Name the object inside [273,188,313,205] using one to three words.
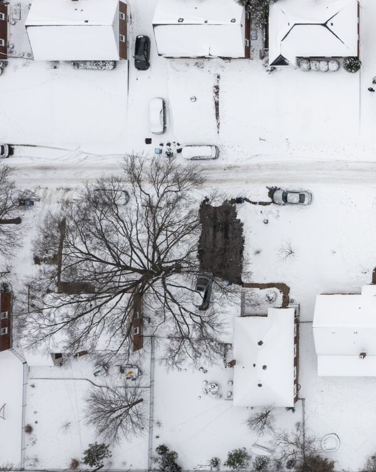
car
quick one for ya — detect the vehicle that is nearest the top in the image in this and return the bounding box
[133,34,152,71]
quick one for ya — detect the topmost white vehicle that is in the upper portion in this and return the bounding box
[147,97,167,134]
